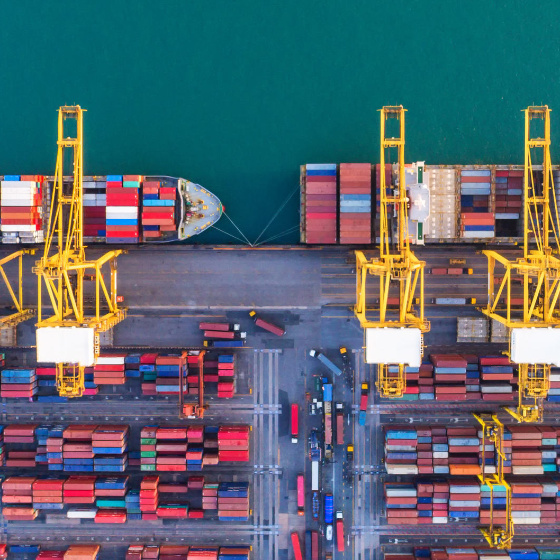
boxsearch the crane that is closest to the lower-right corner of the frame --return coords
[474,471,512,551]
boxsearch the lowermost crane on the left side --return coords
[178,347,211,424]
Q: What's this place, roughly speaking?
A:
port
